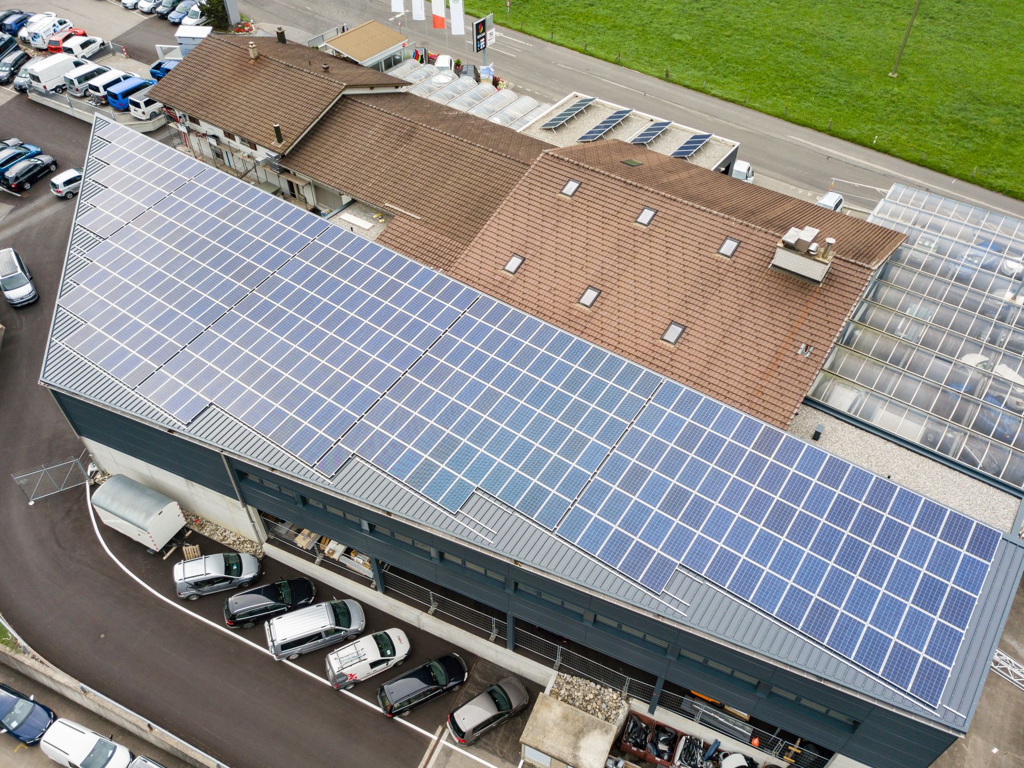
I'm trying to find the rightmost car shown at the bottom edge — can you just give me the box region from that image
[436,671,535,752]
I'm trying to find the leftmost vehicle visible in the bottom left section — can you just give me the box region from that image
[0,673,60,760]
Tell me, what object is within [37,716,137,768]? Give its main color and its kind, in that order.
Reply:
white car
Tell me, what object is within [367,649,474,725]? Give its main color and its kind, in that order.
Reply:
black car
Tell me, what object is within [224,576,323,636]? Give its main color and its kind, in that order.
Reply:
black car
